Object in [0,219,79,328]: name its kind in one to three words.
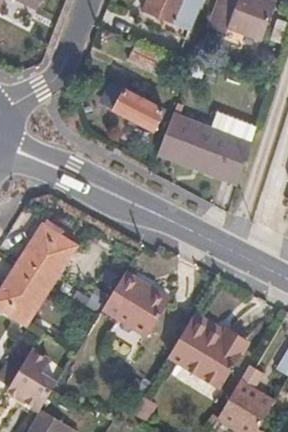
house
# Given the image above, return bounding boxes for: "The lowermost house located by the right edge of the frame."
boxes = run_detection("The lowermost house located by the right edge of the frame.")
[216,364,276,432]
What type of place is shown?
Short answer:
residential area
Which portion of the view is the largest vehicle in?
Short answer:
left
